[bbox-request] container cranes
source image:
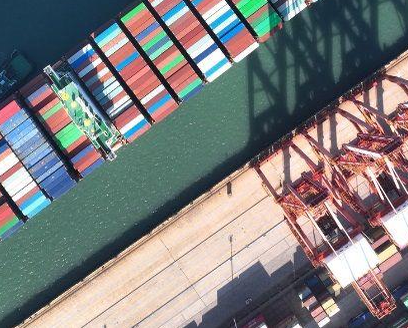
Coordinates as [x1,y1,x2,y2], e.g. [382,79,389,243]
[293,100,408,247]
[341,68,408,168]
[246,133,400,320]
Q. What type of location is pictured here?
port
